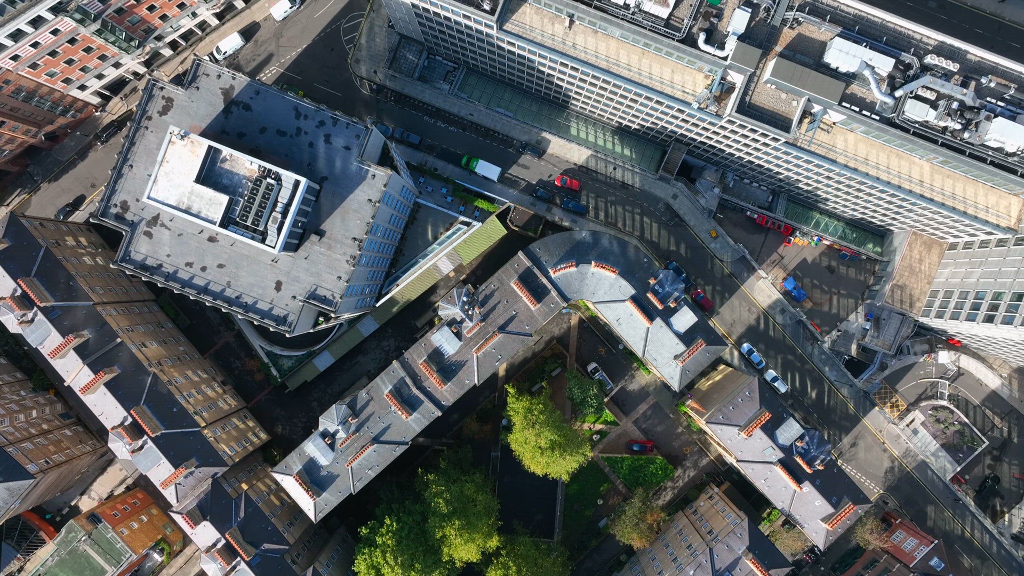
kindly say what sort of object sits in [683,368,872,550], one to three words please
building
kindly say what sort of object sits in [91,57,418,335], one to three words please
building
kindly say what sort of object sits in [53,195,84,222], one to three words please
car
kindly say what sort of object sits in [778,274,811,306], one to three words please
truck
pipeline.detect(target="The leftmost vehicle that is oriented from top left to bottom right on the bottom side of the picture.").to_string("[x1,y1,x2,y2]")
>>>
[585,360,616,395]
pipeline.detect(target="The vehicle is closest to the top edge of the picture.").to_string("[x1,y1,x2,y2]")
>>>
[265,0,305,24]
